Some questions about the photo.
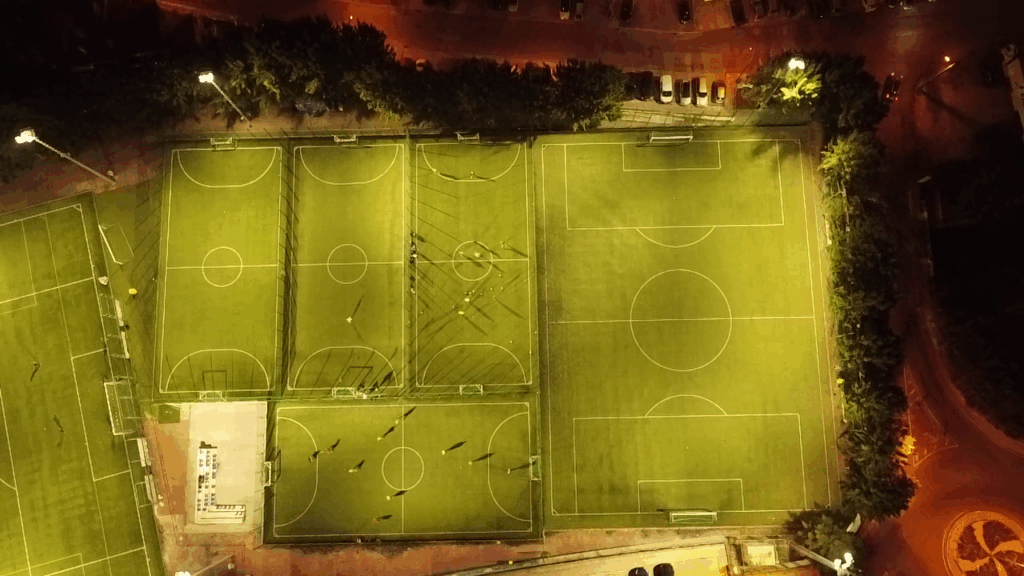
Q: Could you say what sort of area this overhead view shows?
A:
sports ground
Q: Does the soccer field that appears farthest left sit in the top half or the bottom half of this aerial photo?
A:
bottom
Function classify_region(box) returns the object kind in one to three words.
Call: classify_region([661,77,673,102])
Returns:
vehicle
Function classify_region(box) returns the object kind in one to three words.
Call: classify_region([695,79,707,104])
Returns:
vehicle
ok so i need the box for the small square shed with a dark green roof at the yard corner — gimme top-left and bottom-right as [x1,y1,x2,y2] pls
[158,406,182,424]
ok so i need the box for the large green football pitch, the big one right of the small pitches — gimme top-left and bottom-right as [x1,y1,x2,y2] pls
[534,127,840,530]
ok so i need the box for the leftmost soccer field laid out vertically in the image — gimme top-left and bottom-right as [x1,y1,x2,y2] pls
[0,192,165,576]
